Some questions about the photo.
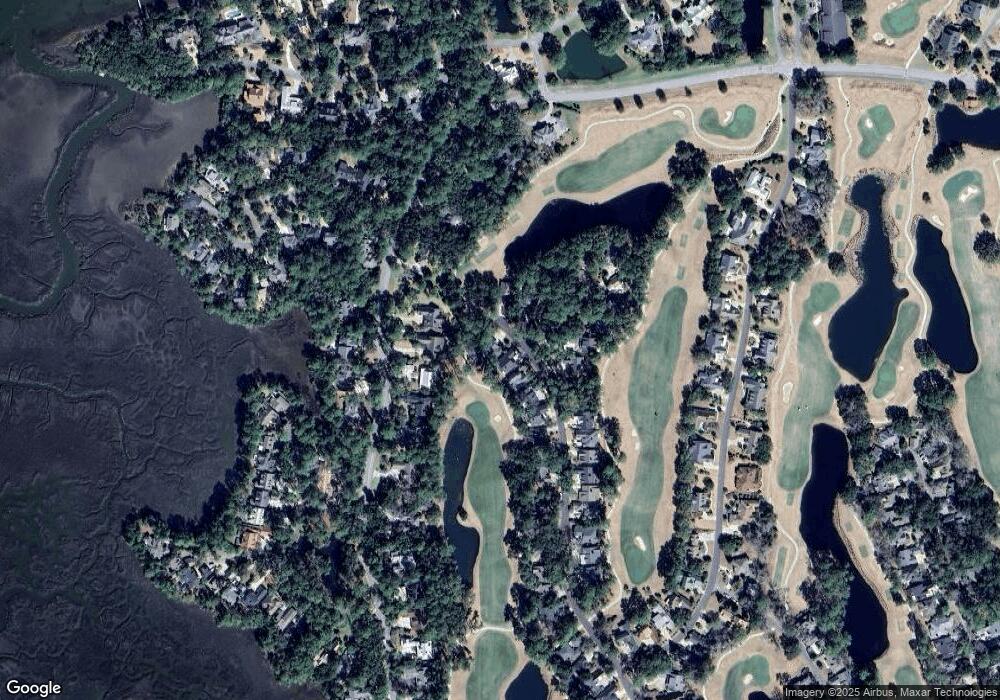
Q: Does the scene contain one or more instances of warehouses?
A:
No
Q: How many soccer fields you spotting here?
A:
zero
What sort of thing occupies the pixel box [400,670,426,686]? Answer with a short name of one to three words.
house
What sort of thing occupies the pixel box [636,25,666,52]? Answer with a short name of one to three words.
house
